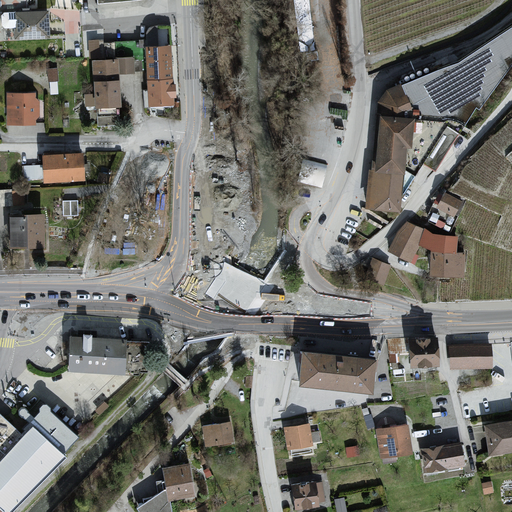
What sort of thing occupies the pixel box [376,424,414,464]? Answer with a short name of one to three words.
house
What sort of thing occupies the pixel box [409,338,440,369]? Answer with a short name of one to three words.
house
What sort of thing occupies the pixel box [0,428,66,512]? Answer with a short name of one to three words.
building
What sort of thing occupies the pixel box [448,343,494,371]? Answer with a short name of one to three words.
barn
